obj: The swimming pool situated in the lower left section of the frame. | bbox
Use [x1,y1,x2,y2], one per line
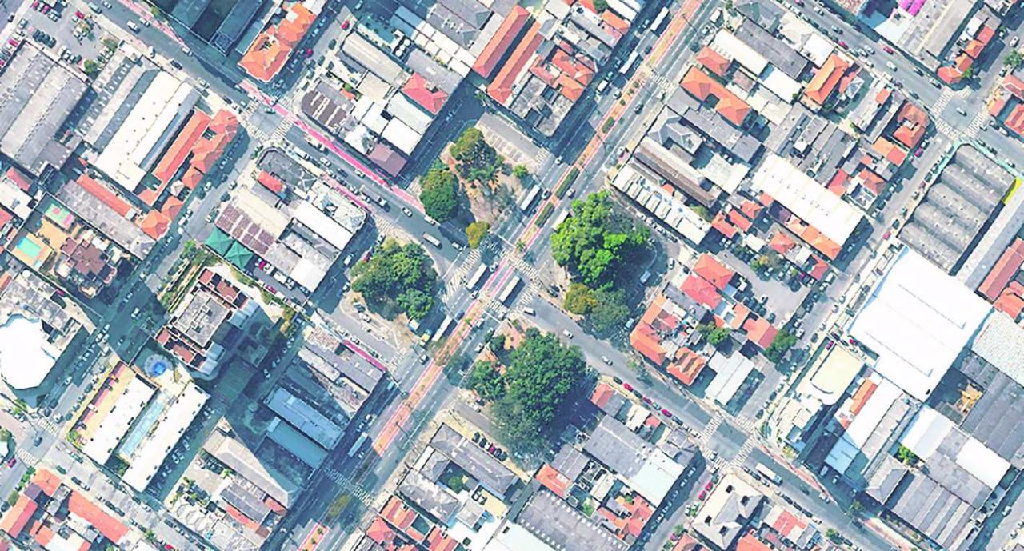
[118,390,170,459]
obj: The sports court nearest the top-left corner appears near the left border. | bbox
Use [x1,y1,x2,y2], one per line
[47,201,76,232]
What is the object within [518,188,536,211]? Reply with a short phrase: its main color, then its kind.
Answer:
white vehicle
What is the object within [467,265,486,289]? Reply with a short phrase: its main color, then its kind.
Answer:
white vehicle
